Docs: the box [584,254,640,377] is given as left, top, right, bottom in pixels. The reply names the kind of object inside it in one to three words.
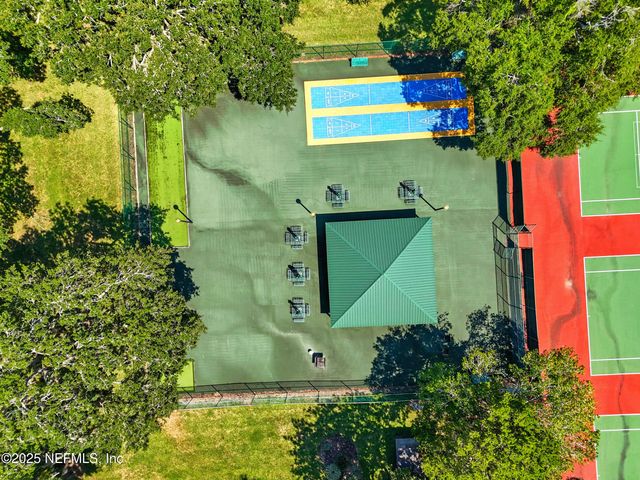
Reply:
tennis court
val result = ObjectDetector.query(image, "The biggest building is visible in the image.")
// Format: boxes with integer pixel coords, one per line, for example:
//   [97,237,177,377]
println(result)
[324,215,438,329]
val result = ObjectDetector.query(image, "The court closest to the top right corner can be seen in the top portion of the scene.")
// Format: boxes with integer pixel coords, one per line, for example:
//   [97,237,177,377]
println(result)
[577,94,640,217]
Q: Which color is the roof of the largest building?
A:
green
